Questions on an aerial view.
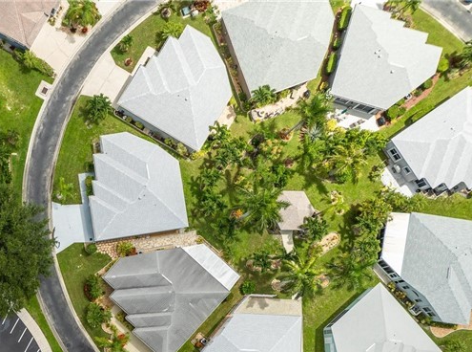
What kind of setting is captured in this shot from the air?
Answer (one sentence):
The area seen from above is a residential area.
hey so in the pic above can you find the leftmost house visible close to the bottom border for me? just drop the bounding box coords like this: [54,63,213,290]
[102,243,240,352]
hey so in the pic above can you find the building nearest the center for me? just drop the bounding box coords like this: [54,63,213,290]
[271,191,314,231]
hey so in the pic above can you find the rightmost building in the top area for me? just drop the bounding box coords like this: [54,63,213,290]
[386,82,472,189]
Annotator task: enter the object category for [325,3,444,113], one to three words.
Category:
house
